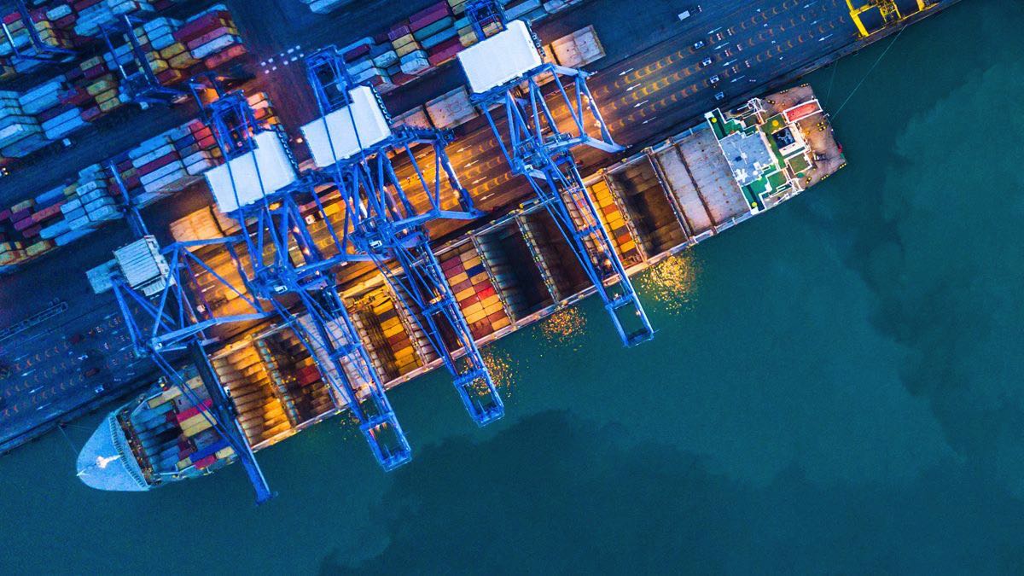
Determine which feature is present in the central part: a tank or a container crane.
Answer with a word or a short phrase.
container crane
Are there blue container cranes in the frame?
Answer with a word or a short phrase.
Yes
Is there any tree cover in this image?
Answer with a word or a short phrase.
No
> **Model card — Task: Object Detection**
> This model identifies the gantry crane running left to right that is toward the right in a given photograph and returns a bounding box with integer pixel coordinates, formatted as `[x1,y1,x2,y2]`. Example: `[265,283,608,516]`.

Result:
[845,0,940,42]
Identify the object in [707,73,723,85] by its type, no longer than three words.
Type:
vehicle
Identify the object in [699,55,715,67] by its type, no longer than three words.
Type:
vehicle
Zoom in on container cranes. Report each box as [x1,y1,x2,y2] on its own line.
[456,0,655,348]
[299,49,511,426]
[86,170,290,509]
[101,14,195,110]
[206,92,420,470]
[194,80,253,164]
[845,0,940,42]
